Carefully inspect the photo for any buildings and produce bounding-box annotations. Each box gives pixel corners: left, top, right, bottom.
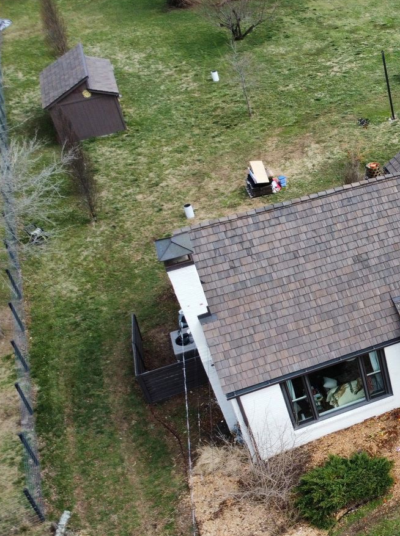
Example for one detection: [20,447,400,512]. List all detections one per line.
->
[154,151,400,457]
[38,44,126,143]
